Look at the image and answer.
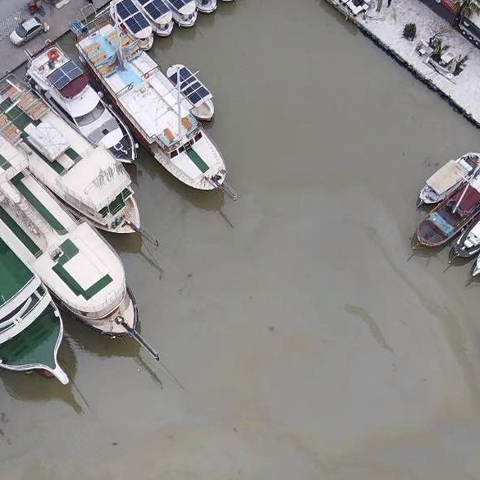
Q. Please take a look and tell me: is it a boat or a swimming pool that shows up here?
boat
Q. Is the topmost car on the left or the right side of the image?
left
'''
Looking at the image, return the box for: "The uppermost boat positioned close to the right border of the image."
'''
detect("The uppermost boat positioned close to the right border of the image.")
[418,153,480,207]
